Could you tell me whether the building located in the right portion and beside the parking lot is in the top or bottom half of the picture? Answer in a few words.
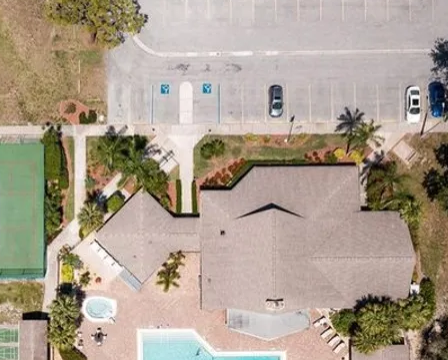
bottom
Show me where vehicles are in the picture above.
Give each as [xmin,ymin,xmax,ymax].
[269,83,286,116]
[428,81,447,117]
[406,85,425,121]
